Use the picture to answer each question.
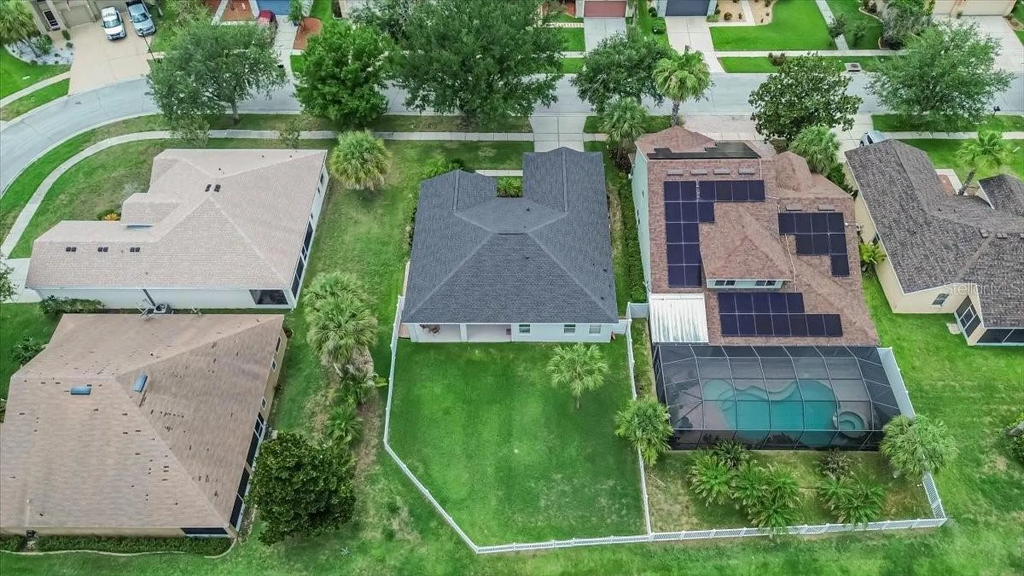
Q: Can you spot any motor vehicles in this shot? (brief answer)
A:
Yes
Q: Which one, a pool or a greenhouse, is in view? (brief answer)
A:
pool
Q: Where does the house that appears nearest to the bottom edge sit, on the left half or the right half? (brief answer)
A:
left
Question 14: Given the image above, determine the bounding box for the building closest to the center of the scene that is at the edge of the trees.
[396,144,619,343]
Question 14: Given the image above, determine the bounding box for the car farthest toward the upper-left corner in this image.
[95,1,125,39]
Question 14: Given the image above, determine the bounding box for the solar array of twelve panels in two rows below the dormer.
[719,292,845,336]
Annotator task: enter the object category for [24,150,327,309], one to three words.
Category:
house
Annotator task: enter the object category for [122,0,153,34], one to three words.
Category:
truck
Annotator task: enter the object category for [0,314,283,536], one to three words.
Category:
house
